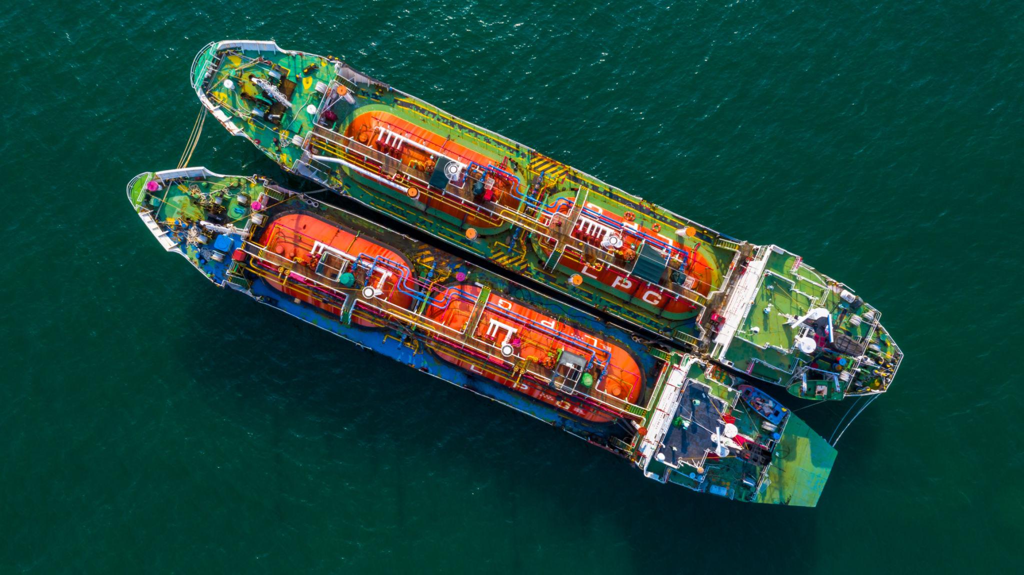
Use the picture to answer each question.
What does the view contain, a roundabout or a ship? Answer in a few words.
ship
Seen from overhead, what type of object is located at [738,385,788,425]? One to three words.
boat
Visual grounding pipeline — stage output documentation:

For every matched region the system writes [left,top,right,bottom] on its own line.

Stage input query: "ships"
[190,38,903,398]
[126,165,837,507]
